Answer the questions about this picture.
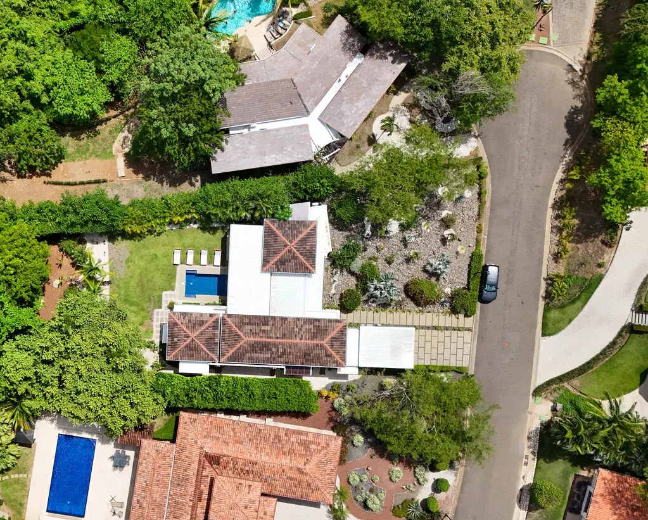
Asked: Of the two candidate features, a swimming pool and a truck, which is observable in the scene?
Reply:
swimming pool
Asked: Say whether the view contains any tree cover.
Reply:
Yes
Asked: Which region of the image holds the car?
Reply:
right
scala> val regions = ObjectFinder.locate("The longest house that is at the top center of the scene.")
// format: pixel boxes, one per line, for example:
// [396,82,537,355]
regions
[208,14,411,174]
